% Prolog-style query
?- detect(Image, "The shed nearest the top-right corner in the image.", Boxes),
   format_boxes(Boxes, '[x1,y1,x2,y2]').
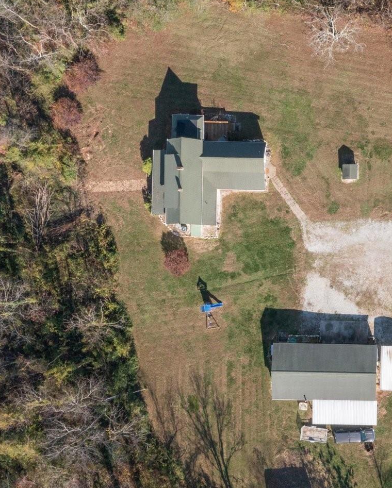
[341,163,358,183]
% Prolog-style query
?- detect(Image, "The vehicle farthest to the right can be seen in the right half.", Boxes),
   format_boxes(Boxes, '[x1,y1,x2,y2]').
[335,428,377,445]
